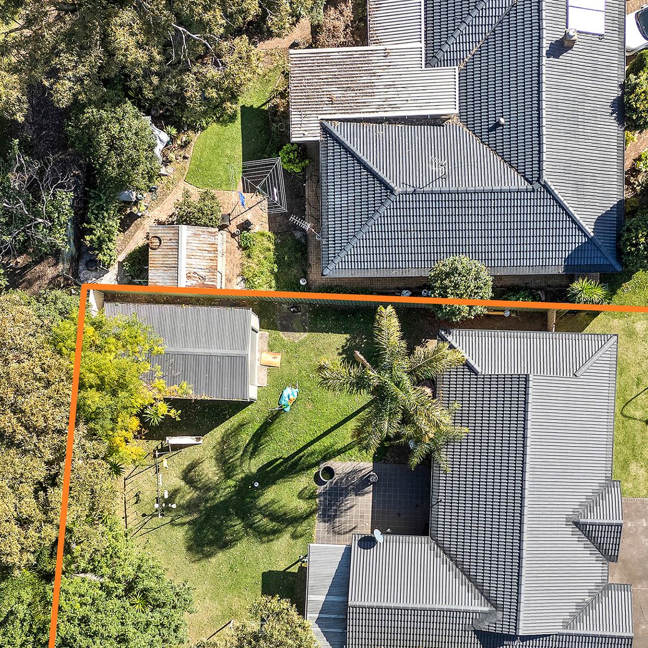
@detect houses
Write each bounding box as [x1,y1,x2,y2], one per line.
[304,329,633,648]
[289,0,626,279]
